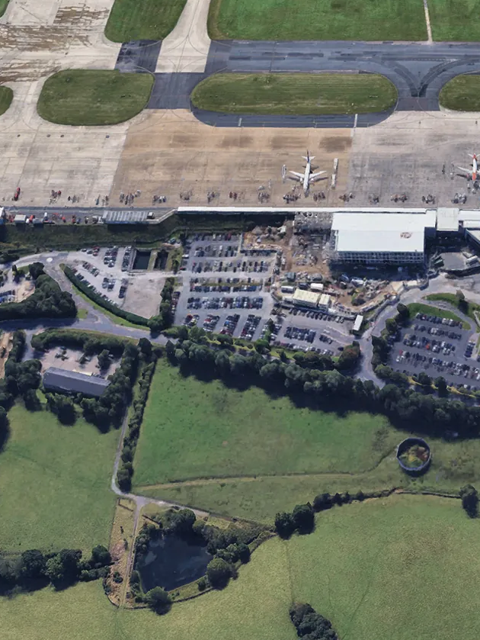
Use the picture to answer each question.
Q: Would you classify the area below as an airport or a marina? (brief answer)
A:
airport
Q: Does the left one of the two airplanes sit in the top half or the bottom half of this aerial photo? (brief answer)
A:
top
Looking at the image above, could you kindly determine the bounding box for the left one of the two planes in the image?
[288,156,325,194]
